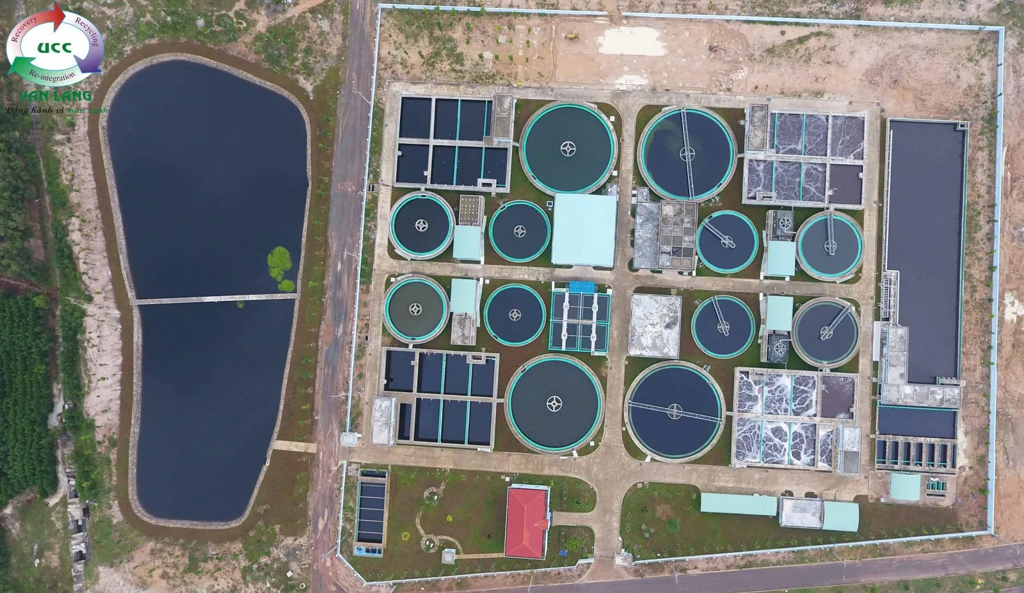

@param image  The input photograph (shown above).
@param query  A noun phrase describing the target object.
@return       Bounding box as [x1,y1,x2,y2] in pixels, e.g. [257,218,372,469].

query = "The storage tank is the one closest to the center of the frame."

[484,283,547,346]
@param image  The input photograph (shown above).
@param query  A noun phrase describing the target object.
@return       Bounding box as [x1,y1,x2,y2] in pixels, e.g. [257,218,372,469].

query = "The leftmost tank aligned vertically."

[354,468,388,549]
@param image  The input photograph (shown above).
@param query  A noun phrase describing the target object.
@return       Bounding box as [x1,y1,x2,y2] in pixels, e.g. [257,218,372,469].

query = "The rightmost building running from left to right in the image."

[879,385,961,408]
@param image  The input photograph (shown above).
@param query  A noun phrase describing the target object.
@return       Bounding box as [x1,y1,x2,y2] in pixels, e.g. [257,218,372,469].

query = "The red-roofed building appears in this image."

[504,484,553,560]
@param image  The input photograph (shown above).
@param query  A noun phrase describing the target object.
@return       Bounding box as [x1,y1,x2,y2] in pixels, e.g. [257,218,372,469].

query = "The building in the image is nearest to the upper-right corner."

[742,104,769,152]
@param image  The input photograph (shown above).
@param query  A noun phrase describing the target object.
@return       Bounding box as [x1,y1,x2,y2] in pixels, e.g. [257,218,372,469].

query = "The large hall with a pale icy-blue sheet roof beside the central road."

[552,193,617,267]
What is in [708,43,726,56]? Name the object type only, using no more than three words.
vehicle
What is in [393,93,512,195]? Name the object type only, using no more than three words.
storage tank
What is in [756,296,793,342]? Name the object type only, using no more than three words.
house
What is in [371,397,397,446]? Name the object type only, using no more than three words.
building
